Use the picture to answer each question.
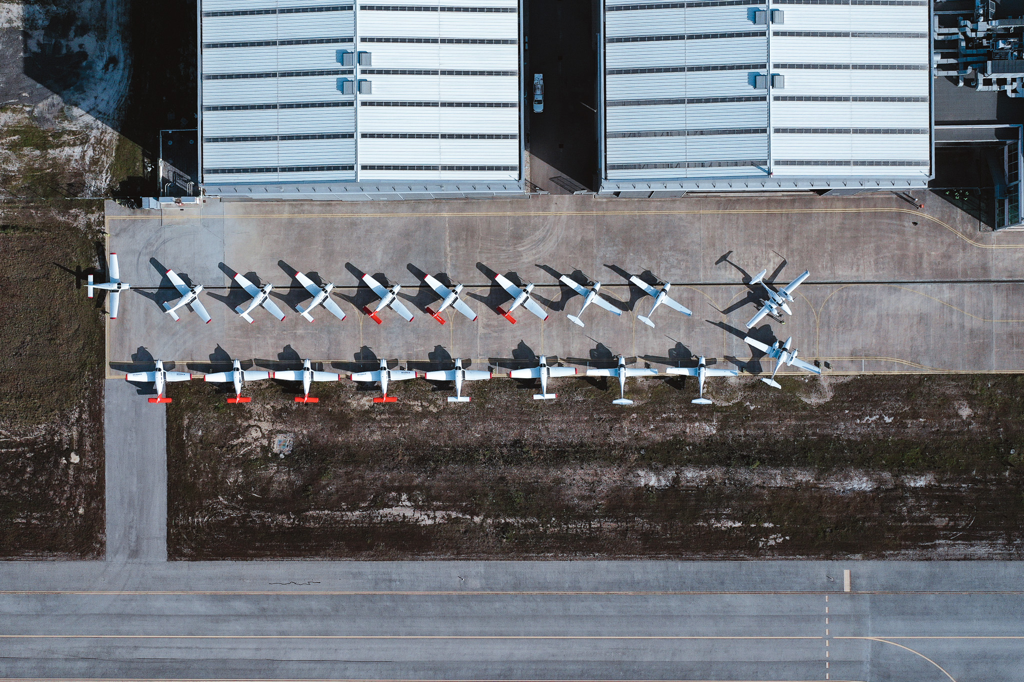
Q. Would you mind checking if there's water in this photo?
No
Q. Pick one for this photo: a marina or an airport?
airport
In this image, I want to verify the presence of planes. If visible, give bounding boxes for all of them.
[560,275,622,327]
[126,358,191,403]
[424,275,476,325]
[495,275,547,324]
[746,337,821,389]
[511,354,576,399]
[162,270,210,324]
[85,253,133,318]
[587,356,659,404]
[426,357,491,402]
[233,274,284,323]
[204,358,270,403]
[630,275,692,328]
[747,268,809,326]
[361,275,413,325]
[351,357,417,402]
[667,355,739,403]
[294,273,345,323]
[274,357,339,403]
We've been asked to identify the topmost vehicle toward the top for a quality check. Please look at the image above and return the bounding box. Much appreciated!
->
[532,72,545,112]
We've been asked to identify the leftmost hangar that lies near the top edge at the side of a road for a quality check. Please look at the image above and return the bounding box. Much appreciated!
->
[196,0,530,203]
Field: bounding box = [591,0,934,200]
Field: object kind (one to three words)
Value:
hangar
